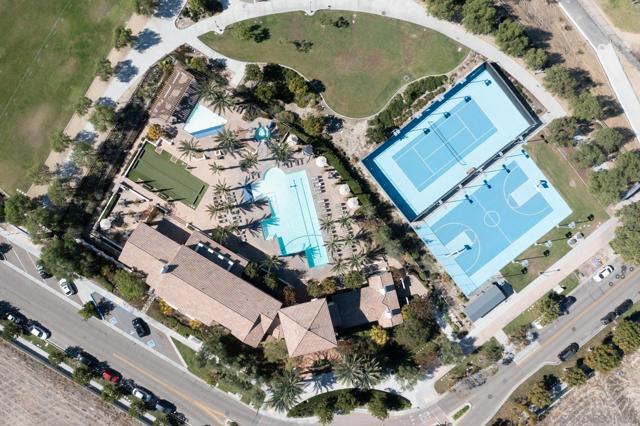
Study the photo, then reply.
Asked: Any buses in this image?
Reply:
No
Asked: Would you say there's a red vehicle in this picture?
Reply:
Yes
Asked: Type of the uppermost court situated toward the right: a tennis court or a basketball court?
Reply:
tennis court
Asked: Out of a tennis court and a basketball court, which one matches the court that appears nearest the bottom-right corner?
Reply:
basketball court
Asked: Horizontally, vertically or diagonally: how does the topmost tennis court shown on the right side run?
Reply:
diagonally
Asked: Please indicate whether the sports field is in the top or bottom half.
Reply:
top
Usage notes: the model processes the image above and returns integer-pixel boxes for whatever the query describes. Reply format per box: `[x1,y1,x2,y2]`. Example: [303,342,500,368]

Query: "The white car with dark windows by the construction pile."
[592,264,613,281]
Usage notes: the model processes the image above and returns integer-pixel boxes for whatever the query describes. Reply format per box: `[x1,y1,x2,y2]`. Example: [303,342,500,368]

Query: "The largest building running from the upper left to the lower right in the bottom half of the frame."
[118,222,286,347]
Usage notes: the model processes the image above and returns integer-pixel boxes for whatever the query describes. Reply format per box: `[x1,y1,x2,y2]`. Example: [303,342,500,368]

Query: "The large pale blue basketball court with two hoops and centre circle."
[411,147,572,296]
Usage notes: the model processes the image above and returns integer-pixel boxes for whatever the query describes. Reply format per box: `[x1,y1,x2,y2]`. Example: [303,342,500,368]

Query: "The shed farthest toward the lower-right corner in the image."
[462,284,506,322]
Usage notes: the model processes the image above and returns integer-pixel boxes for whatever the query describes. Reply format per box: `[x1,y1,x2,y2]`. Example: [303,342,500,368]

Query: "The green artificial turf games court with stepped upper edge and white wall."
[128,143,209,208]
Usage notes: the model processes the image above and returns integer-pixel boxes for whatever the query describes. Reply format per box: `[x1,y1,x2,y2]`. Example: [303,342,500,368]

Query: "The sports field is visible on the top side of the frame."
[0,0,136,194]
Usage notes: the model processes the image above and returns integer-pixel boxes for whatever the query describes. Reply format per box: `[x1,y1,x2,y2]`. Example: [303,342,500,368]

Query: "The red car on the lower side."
[102,368,123,384]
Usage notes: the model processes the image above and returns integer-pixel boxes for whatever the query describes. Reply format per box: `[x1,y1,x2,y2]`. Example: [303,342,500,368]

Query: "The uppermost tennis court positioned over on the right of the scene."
[363,64,536,220]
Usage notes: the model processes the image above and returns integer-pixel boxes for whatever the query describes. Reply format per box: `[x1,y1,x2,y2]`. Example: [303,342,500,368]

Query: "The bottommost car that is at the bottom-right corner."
[558,343,579,362]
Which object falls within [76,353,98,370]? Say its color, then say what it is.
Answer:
black car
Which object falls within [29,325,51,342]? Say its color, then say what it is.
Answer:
white car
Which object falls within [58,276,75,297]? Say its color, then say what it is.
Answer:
white car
